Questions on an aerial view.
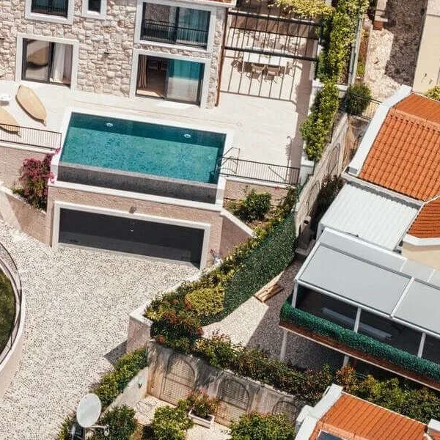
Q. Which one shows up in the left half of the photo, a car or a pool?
pool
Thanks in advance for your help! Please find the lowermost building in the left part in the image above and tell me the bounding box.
[48,186,223,264]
